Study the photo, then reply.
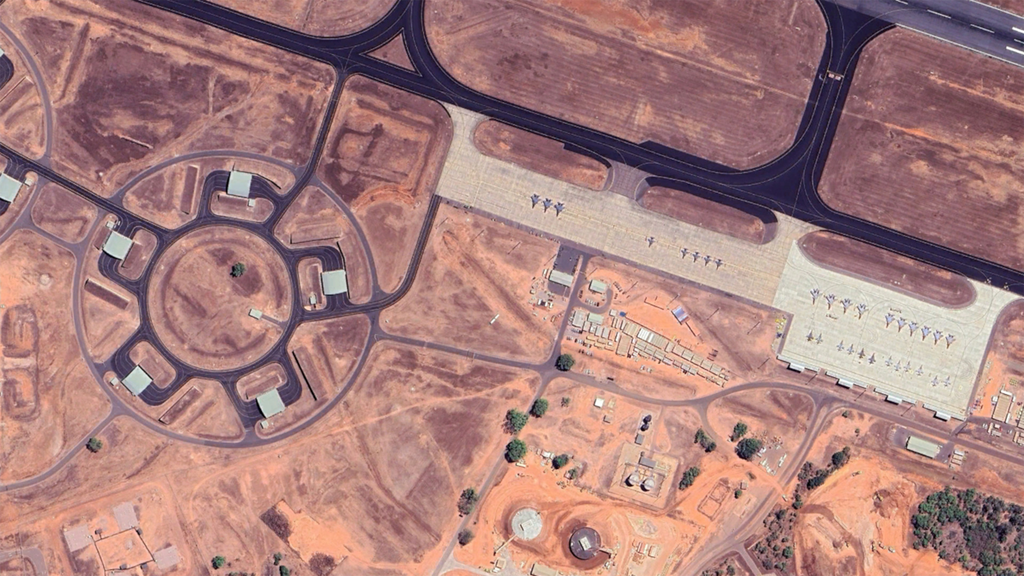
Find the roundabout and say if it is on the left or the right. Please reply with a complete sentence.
The roundabout is on the left side of the image.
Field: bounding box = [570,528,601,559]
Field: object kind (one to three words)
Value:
storage tank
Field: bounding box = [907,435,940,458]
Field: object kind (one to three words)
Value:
shed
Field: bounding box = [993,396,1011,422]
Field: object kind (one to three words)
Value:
building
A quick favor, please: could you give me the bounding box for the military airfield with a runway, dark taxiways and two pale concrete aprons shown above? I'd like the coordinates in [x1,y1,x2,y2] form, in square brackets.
[0,0,1024,418]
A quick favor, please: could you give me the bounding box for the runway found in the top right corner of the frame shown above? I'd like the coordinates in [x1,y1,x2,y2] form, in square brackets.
[843,0,1024,68]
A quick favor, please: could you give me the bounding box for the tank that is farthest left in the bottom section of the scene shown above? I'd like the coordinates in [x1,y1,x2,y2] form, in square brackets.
[512,508,543,539]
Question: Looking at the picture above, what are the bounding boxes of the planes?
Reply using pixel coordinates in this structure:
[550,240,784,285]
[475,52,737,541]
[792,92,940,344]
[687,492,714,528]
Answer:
[856,304,867,320]
[943,378,951,388]
[894,361,901,372]
[841,299,852,315]
[884,313,894,328]
[681,248,689,258]
[868,355,876,365]
[903,364,911,373]
[715,259,723,270]
[555,201,565,216]
[806,331,813,341]
[693,252,700,263]
[885,357,893,368]
[857,350,865,360]
[531,193,541,207]
[945,334,955,349]
[897,317,907,331]
[915,368,923,377]
[837,340,844,352]
[647,237,655,248]
[543,197,553,212]
[809,289,821,306]
[909,321,918,337]
[825,294,836,310]
[921,326,931,340]
[931,377,939,388]
[815,335,823,345]
[933,330,943,344]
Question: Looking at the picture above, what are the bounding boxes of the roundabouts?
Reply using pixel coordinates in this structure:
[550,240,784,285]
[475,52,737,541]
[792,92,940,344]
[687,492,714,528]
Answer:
[98,170,384,436]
